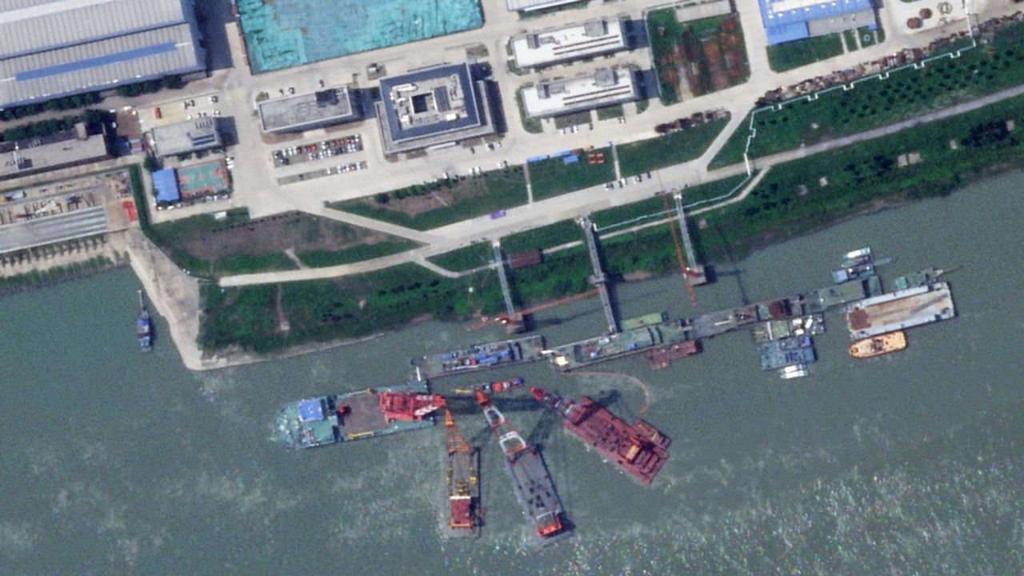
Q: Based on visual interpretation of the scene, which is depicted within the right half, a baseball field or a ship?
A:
ship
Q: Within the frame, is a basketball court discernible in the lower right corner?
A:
No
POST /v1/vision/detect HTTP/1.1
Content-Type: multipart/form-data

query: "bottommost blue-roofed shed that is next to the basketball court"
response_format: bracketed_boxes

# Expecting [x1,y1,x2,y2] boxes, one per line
[153,169,182,203]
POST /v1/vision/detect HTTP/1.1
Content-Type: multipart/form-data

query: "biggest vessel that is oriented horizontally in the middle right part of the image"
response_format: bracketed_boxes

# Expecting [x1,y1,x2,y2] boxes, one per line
[847,282,954,338]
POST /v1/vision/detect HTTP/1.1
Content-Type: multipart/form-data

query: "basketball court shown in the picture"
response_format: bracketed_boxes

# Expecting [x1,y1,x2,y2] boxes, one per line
[178,161,228,197]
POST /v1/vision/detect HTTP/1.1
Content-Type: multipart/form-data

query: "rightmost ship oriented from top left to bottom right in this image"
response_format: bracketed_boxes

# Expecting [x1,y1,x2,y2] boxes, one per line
[532,387,669,482]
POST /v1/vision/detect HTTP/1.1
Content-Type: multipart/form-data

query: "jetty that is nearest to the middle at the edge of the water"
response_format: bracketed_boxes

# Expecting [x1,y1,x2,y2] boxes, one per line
[493,241,528,334]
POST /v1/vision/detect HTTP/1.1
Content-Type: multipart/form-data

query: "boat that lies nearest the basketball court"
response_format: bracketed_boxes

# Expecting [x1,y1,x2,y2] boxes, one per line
[138,290,152,352]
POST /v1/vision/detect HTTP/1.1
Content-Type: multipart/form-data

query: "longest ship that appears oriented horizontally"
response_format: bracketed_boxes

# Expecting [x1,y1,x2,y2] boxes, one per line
[272,381,465,447]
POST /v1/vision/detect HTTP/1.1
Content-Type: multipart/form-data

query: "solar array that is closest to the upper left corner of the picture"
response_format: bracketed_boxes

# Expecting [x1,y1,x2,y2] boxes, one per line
[434,87,451,113]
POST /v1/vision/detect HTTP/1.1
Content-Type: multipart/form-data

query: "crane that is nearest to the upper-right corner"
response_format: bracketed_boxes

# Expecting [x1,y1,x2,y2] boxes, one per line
[655,168,698,305]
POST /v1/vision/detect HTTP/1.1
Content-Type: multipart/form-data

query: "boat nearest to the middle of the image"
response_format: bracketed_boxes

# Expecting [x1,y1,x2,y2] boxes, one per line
[455,378,524,395]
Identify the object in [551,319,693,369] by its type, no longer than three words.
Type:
pier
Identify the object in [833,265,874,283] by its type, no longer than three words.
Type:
ship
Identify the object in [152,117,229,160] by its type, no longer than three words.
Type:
building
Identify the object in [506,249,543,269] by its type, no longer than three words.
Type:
shed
